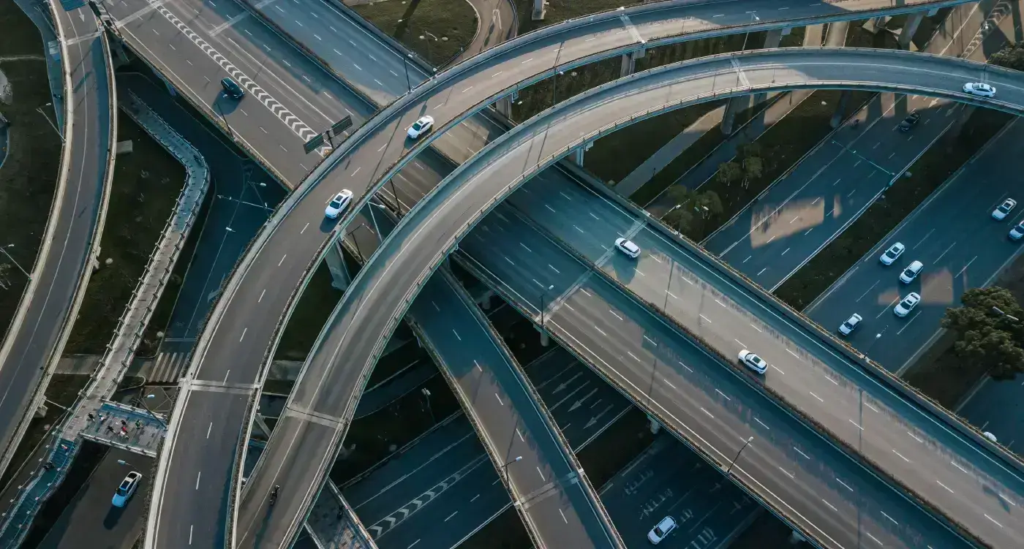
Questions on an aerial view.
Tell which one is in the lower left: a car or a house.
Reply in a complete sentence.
The one visible in the lower left is a car.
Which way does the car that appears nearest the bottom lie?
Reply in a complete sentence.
The car that appears nearest the bottom is oriented diagonally.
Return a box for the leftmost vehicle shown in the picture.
[111,472,141,507]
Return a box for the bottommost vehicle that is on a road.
[645,513,679,545]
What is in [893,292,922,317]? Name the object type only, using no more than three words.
car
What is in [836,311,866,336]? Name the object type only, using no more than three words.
car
